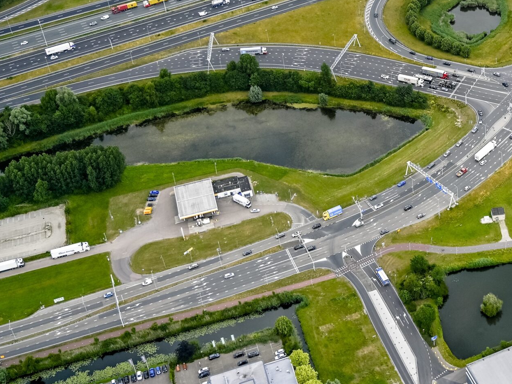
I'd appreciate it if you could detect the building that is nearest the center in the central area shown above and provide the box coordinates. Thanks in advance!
[211,176,253,201]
